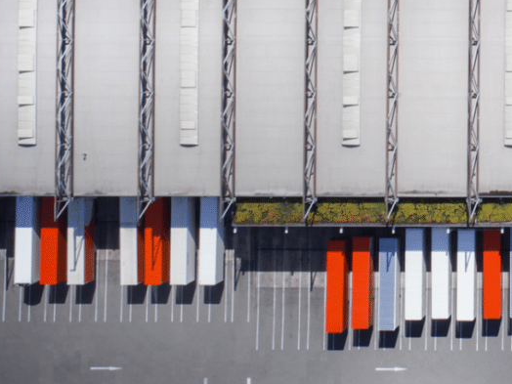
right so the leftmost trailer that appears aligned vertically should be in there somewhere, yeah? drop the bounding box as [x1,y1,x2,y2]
[15,196,41,287]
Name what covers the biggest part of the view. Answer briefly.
buildings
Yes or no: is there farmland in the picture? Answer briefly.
No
